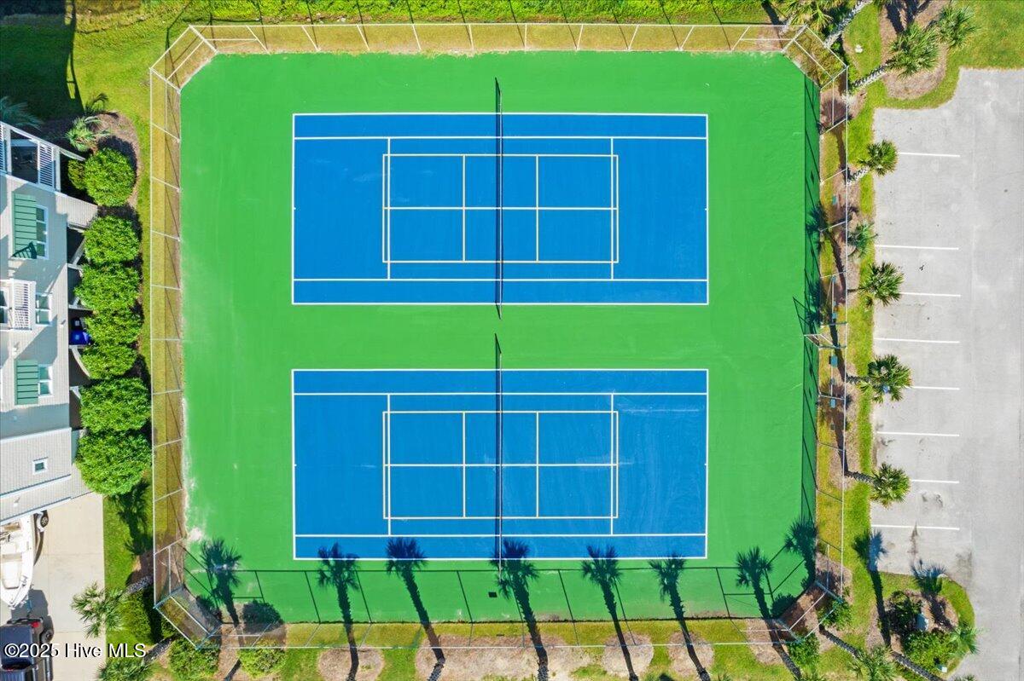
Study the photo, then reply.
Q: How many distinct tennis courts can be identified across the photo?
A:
2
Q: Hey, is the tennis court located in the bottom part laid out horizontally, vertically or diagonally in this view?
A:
horizontally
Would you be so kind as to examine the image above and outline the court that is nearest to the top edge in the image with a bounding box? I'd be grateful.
[292,112,709,305]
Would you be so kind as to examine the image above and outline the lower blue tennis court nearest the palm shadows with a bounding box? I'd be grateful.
[292,368,709,561]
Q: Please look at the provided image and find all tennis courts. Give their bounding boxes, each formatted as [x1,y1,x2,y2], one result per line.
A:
[292,368,709,561]
[292,112,709,305]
